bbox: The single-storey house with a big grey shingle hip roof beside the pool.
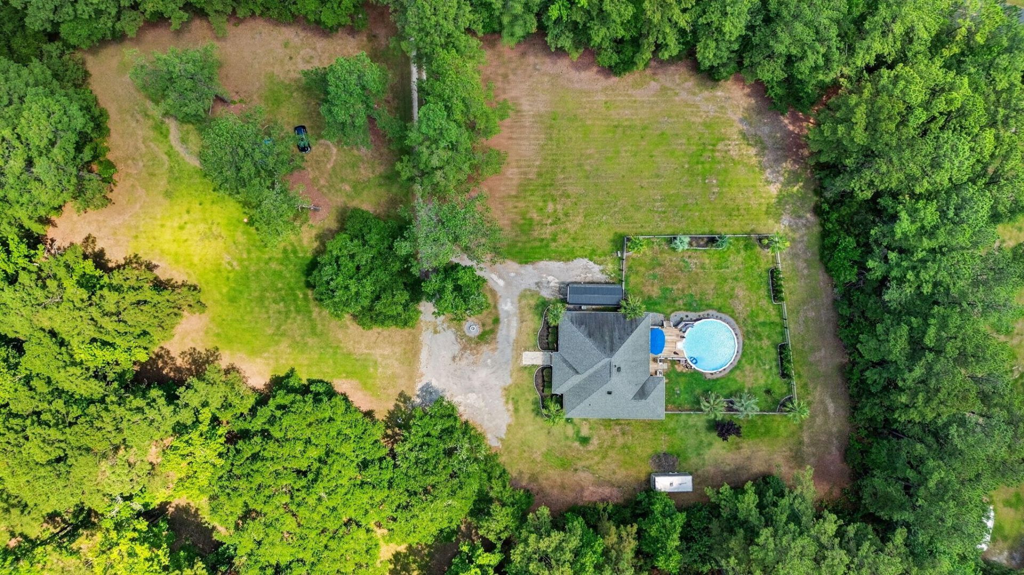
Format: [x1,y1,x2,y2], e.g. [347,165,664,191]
[552,311,665,419]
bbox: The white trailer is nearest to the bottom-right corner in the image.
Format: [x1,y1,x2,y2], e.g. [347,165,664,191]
[642,471,692,492]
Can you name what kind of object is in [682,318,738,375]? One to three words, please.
swimming pool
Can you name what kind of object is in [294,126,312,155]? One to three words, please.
car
